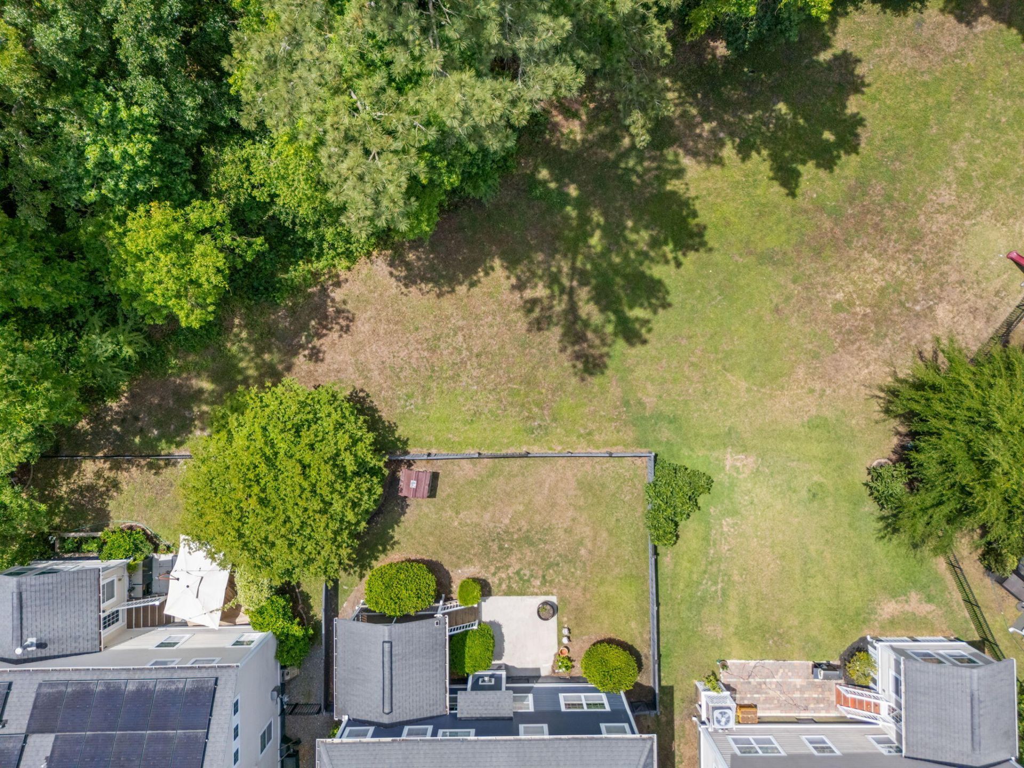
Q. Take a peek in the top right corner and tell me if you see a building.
No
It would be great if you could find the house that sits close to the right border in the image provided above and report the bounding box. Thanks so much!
[687,628,1024,768]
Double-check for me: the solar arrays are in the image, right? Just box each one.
[0,688,215,768]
